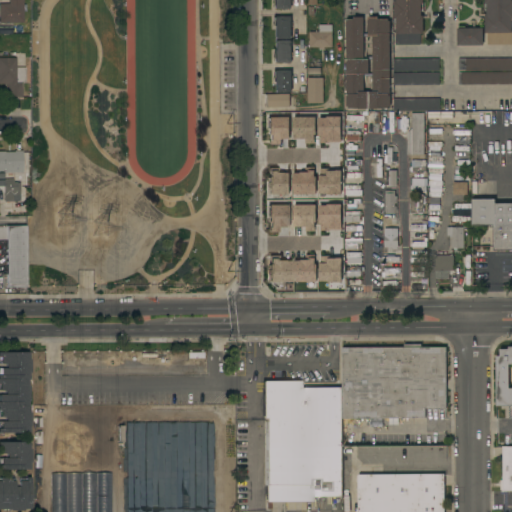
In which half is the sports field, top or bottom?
top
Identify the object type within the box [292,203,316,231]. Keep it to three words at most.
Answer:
house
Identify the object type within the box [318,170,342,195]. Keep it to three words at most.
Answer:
house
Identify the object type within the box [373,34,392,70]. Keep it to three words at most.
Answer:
building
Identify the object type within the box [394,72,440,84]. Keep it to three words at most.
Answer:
building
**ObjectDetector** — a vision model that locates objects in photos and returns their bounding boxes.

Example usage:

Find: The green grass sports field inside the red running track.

[136,0,187,176]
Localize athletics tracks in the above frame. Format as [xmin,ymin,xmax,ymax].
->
[126,0,197,186]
